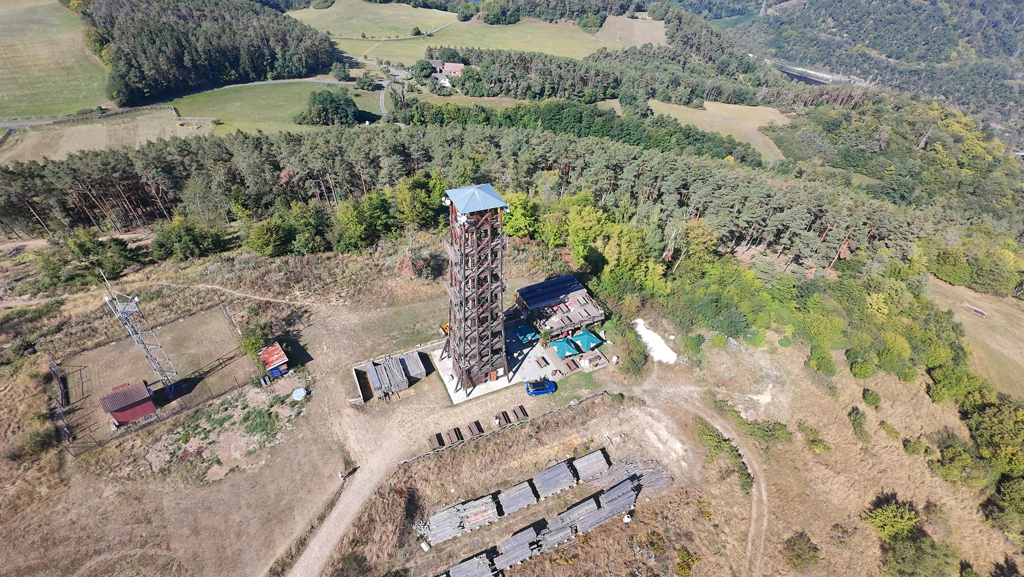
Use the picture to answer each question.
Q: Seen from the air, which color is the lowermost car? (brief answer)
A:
blue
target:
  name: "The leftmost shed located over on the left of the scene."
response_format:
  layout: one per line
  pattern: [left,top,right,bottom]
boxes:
[100,381,156,434]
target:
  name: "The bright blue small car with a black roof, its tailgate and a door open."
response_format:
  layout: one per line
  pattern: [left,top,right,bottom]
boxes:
[524,375,555,397]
